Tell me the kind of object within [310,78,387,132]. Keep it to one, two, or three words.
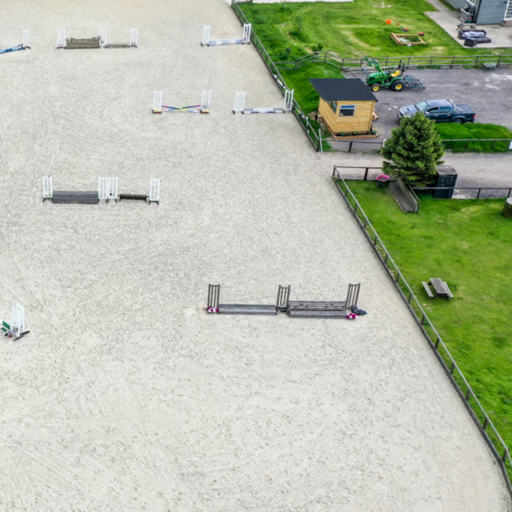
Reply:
shed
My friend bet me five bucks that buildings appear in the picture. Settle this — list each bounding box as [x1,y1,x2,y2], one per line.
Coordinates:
[310,78,387,132]
[447,0,512,25]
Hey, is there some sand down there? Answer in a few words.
Yes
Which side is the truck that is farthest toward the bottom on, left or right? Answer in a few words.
right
